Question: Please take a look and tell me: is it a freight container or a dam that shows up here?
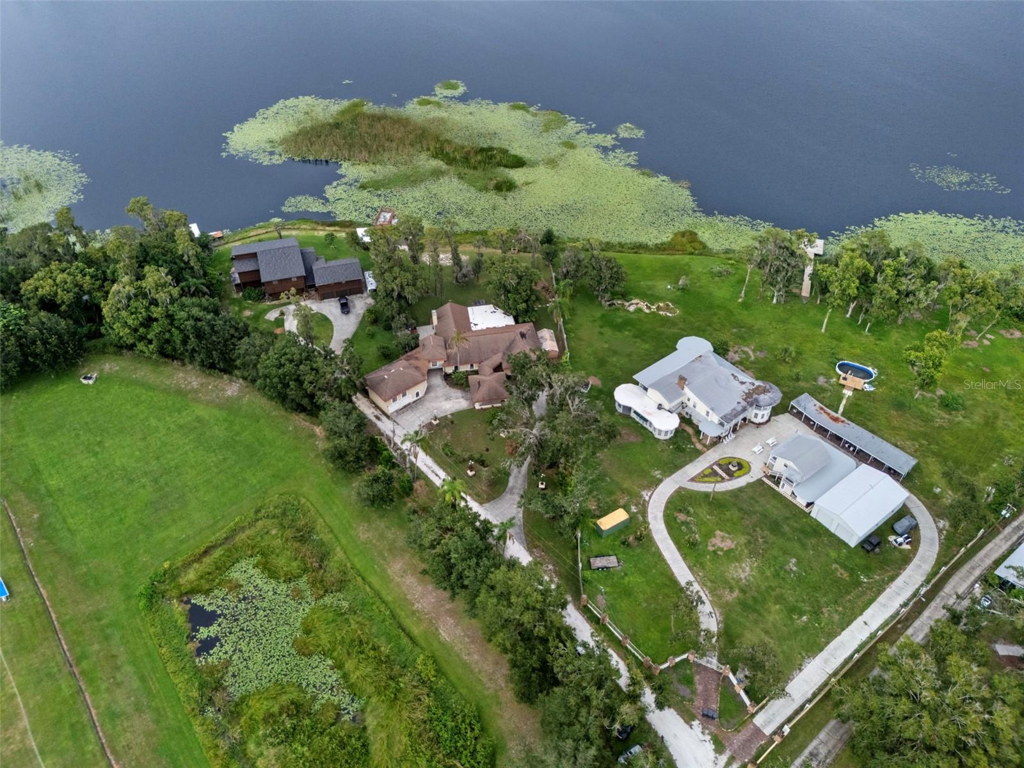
freight container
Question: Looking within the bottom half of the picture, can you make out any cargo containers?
Yes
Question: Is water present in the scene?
Yes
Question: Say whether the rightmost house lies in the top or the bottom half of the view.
bottom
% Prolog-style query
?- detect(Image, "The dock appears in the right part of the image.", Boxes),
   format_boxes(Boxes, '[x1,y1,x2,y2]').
[803,240,831,298]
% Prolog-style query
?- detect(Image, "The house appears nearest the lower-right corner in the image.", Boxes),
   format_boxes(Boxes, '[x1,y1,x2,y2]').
[995,544,1024,610]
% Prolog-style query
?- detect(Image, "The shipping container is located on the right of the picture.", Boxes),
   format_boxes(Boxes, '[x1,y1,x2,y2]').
[598,510,631,540]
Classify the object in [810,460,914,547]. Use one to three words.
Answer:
barn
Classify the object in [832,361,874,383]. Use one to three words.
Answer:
swimming pool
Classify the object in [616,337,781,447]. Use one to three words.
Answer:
house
